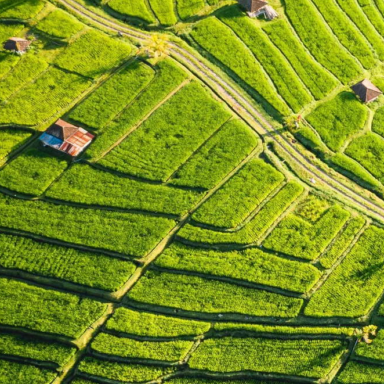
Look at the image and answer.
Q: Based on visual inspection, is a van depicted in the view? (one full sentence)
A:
No, no van can be seen from above.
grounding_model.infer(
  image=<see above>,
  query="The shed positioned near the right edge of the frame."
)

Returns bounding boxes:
[345,80,384,105]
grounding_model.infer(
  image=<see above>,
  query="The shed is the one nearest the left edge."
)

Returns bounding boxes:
[0,39,36,57]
